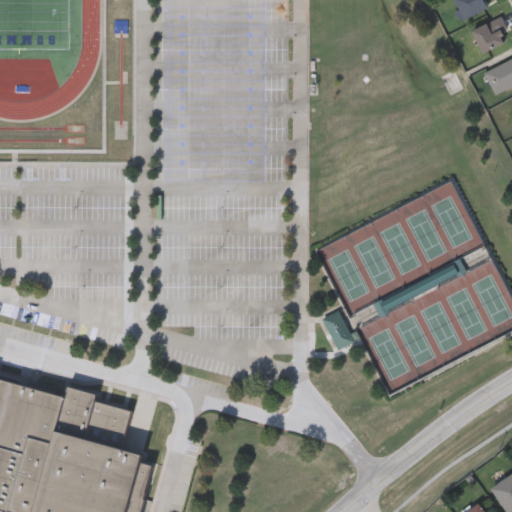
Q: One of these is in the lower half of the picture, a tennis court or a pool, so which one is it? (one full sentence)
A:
There is a tennis court in the lower half of the picture.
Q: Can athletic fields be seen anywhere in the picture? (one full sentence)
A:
Yes, there is an athletic field in the image.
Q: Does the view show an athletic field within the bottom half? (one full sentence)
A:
No, no athletic field can be made out within the bottom half.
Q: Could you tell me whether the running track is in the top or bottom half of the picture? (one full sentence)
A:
It is in the top half that the running track appears.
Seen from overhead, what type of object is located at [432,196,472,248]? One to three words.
tennis court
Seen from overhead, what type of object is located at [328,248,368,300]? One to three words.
tennis court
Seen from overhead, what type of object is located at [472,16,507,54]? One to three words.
house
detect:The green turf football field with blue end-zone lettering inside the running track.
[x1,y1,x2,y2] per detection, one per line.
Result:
[0,0,82,102]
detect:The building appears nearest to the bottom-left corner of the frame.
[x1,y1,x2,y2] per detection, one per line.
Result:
[0,377,153,512]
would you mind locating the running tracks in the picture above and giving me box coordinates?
[0,0,102,122]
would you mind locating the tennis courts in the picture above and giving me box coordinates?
[406,209,446,262]
[328,248,368,300]
[354,236,394,288]
[421,302,462,354]
[432,196,472,248]
[369,328,410,380]
[472,276,512,328]
[380,222,420,274]
[395,315,436,367]
[447,288,488,341]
